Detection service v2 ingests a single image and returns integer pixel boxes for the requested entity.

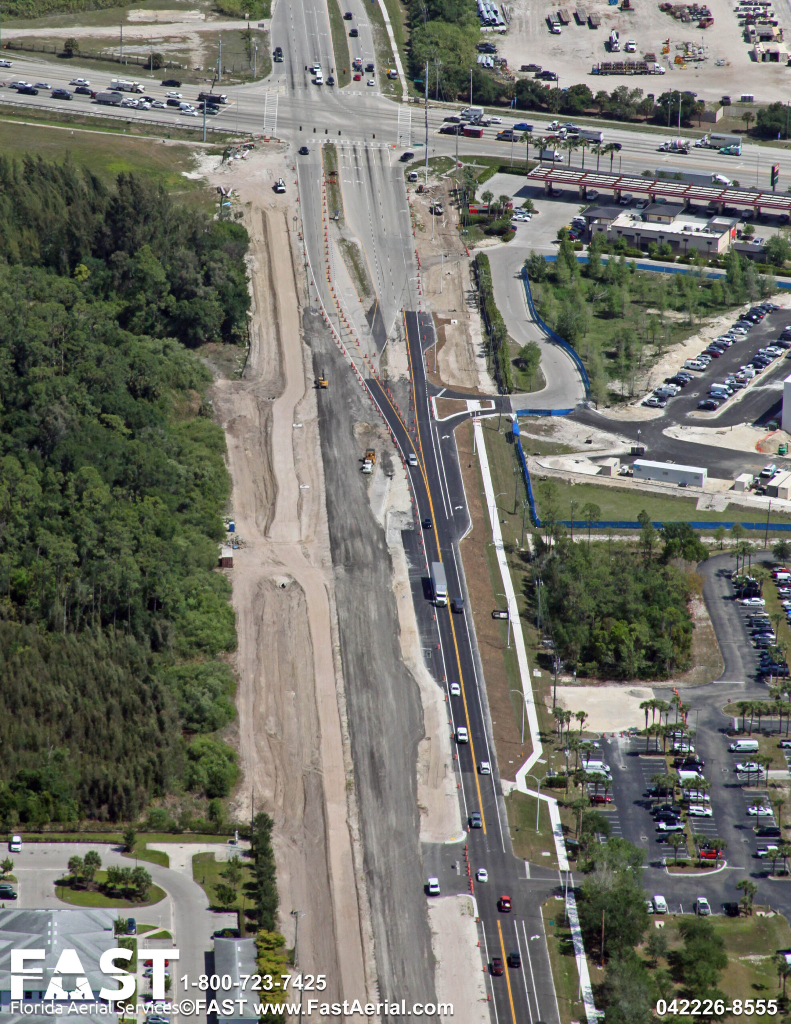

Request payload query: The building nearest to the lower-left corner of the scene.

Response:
[0,908,122,1024]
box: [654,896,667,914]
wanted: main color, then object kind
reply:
white vehicle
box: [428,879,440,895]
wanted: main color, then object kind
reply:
white vehicle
